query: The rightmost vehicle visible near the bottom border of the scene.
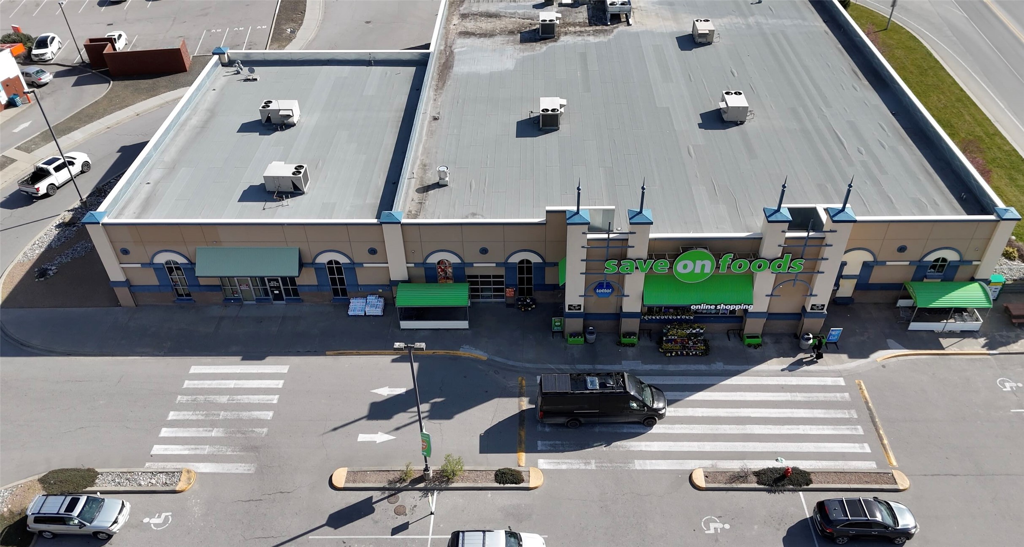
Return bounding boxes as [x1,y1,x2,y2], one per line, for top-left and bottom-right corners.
[816,493,925,544]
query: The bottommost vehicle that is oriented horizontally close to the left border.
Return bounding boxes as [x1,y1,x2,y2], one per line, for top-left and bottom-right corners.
[19,492,128,540]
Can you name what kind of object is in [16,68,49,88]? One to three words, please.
car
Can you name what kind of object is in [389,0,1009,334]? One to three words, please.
building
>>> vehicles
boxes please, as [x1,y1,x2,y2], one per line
[15,153,87,198]
[19,492,128,540]
[108,29,130,51]
[538,373,667,427]
[450,530,548,547]
[16,68,49,88]
[33,32,62,56]
[816,493,925,544]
